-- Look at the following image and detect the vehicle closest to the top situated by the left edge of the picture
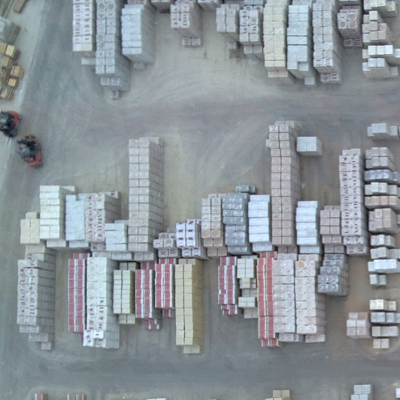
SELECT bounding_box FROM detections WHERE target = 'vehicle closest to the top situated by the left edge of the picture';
[0,111,21,147]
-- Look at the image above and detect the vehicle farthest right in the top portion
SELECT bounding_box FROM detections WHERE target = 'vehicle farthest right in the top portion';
[15,131,43,163]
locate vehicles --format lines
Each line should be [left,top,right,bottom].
[15,131,43,163]
[0,111,21,147]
